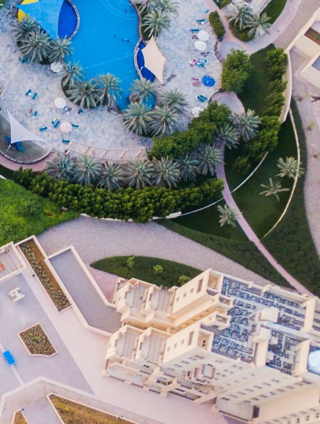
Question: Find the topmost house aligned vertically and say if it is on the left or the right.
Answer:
right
